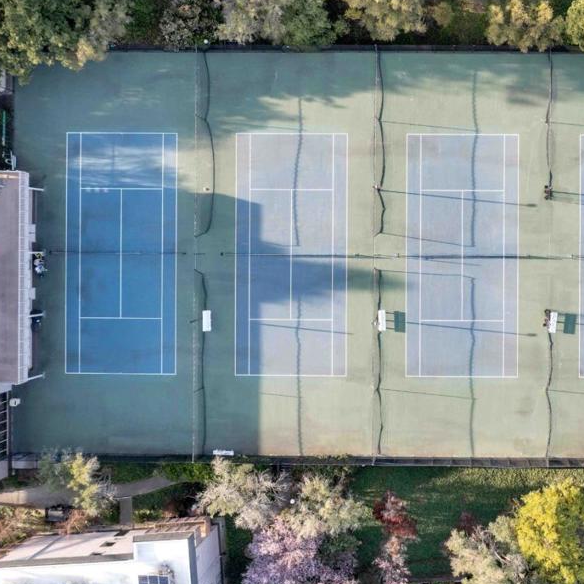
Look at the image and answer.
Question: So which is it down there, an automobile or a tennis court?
tennis court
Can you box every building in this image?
[0,170,46,490]
[0,520,228,584]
